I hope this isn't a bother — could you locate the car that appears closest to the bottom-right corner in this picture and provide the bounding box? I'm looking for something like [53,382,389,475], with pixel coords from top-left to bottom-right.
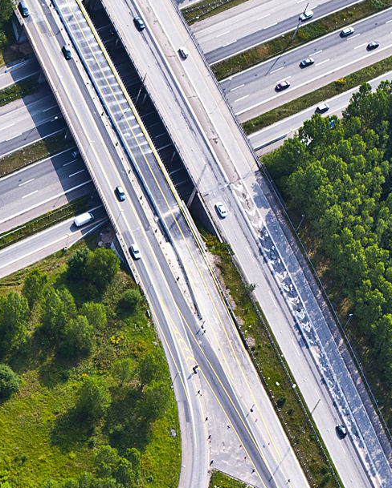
[334,422,347,441]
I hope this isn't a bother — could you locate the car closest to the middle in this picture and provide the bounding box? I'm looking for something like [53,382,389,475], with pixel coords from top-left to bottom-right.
[215,203,227,219]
